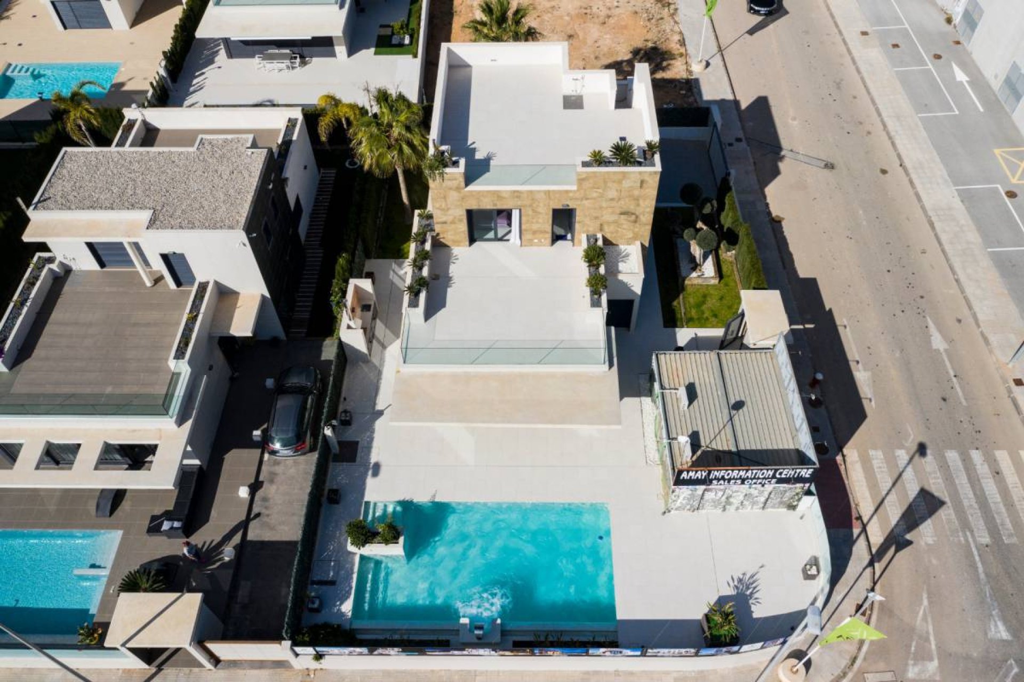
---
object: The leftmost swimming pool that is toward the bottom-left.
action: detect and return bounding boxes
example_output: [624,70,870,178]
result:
[0,527,128,647]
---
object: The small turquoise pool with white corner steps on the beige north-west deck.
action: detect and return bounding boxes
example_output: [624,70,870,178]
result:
[0,61,122,106]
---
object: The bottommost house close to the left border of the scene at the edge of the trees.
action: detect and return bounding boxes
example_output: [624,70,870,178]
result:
[0,108,321,493]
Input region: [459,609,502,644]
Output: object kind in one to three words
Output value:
fountain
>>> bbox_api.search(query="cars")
[748,0,781,15]
[267,357,333,459]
